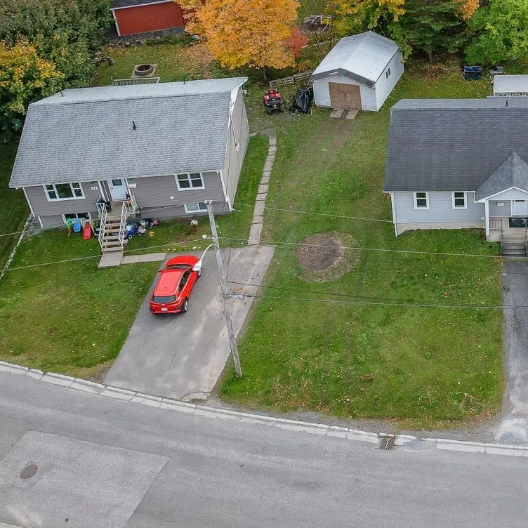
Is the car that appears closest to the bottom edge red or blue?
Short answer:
red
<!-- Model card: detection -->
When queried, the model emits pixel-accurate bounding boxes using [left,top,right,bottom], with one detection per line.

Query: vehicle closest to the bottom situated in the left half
[143,255,203,321]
